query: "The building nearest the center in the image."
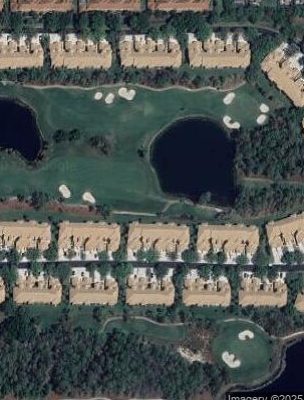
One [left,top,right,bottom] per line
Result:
[127,221,189,250]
